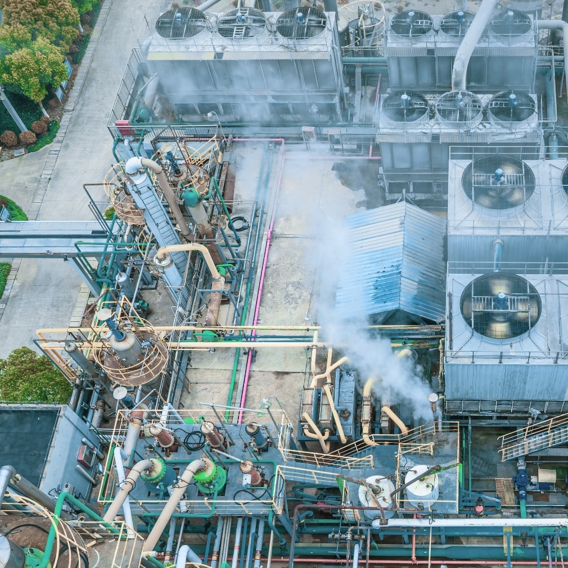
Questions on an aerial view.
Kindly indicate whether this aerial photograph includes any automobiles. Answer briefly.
No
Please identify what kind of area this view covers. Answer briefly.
industrial area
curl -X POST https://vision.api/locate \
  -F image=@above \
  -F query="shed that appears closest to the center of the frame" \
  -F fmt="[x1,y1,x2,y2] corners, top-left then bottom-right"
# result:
[335,185,445,346]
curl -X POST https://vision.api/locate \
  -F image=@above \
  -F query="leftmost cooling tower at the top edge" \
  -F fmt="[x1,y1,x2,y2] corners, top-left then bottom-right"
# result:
[143,0,345,122]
